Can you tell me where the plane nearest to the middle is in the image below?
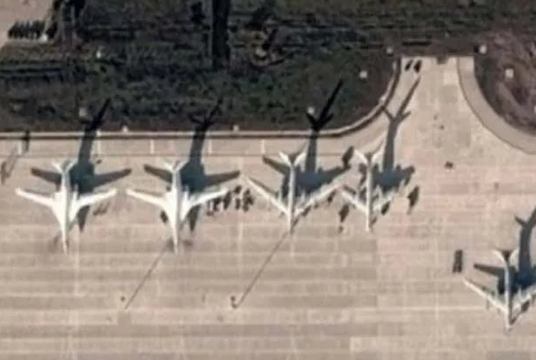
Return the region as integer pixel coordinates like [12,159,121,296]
[247,151,334,233]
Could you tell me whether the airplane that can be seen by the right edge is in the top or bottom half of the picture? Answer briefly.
bottom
